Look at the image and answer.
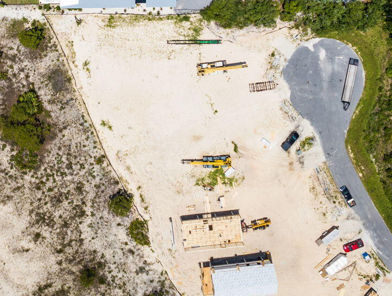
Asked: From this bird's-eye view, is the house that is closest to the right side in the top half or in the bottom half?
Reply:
bottom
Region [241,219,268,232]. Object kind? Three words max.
vehicle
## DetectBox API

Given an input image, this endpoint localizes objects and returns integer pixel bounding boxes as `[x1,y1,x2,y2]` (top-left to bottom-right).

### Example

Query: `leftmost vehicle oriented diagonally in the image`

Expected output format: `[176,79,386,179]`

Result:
[280,131,300,151]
